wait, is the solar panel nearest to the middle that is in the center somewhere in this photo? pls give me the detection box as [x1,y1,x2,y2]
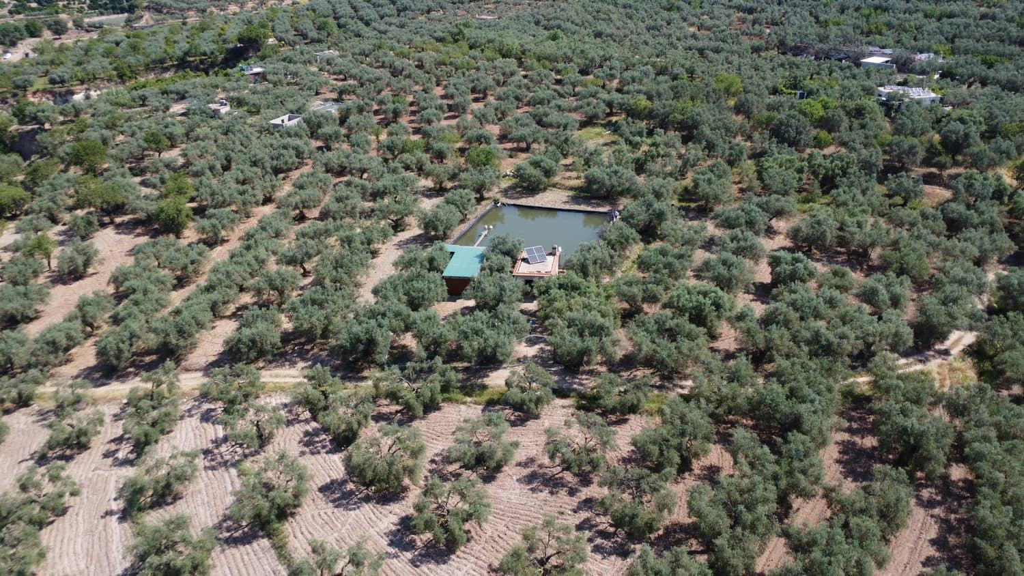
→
[526,246,548,267]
